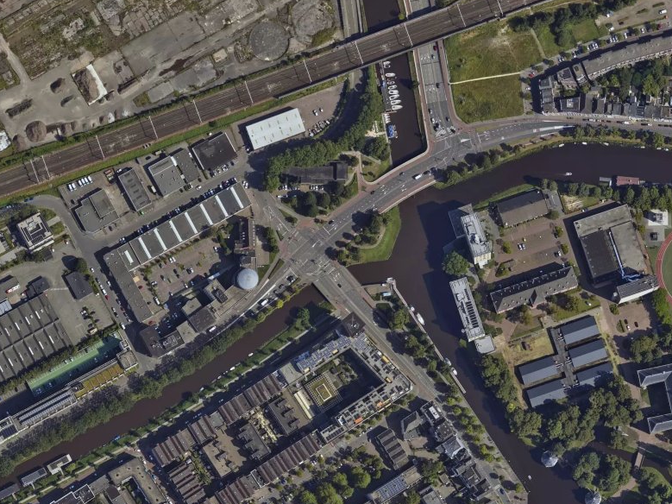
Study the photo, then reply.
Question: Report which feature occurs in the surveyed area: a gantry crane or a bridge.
bridge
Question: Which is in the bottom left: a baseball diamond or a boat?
boat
